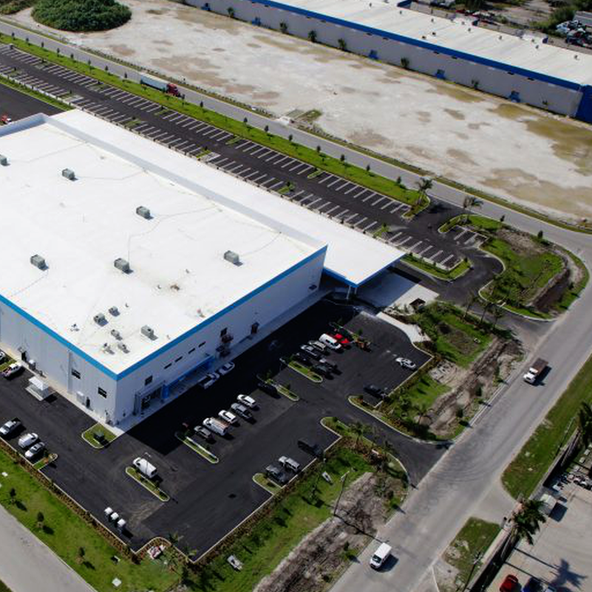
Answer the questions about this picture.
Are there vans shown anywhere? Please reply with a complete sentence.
Yes, there is a van in the image.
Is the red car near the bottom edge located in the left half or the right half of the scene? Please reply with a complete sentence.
The red car near the bottom edge sits on the right side.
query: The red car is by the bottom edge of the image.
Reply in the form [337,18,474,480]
[497,572,520,592]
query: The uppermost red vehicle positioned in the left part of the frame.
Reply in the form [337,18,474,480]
[163,84,182,98]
